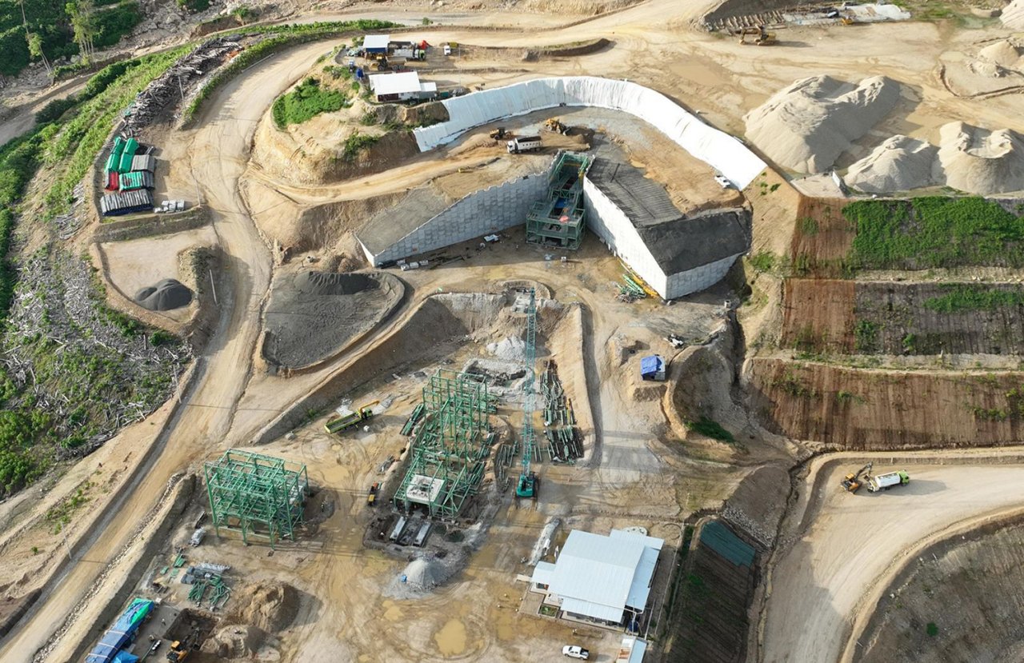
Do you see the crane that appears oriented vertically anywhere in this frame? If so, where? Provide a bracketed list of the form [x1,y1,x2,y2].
[514,284,543,501]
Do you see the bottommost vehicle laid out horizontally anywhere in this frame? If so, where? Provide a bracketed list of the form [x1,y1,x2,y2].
[561,643,590,659]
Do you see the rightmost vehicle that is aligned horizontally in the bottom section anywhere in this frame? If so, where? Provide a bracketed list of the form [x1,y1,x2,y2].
[867,468,913,492]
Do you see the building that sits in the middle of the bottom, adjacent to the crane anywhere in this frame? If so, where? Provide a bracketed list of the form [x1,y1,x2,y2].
[528,529,664,632]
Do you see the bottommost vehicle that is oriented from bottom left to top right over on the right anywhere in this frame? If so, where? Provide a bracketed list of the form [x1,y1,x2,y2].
[843,447,875,491]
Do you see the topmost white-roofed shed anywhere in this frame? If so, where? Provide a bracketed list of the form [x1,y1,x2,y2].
[362,34,389,63]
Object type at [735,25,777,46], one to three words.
work vehicle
